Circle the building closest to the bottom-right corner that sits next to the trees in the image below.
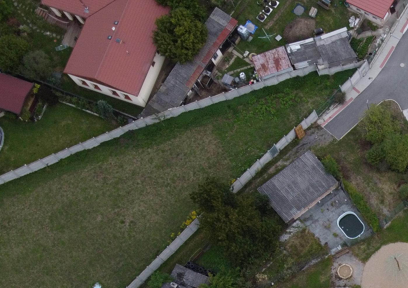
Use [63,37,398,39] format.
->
[259,150,341,225]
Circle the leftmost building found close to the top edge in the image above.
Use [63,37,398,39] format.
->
[41,0,171,104]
